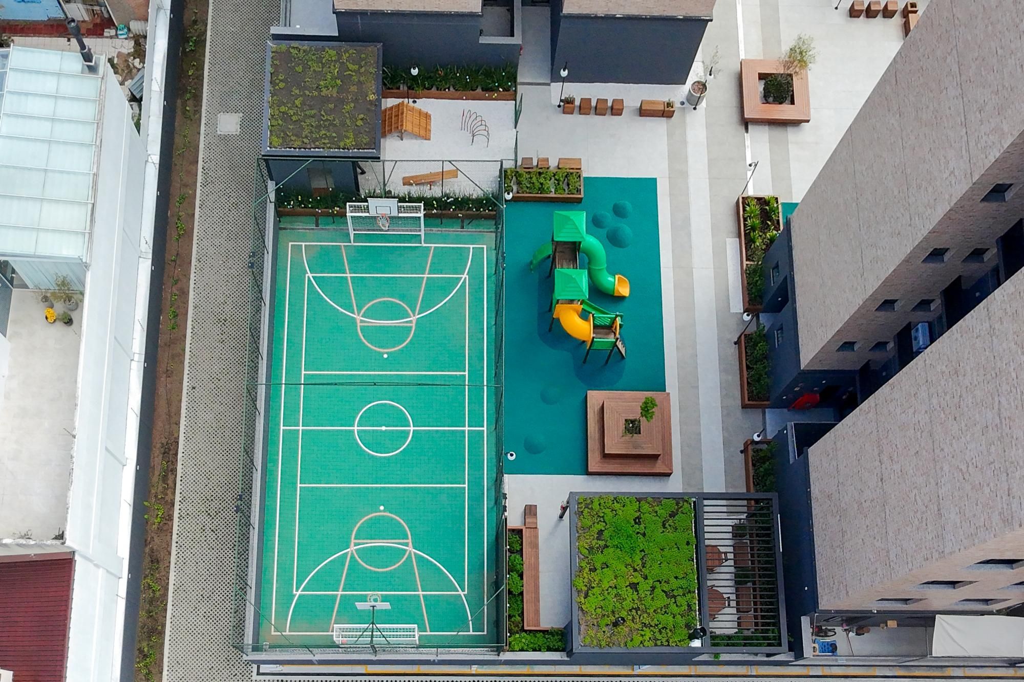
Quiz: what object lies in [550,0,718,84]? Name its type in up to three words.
building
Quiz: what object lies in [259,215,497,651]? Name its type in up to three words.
sports court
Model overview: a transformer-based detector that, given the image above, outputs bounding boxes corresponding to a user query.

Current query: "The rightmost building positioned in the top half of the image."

[761,0,1024,407]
